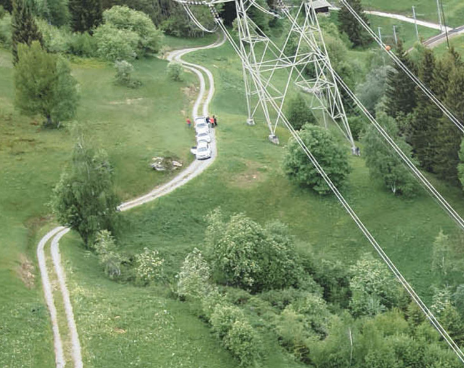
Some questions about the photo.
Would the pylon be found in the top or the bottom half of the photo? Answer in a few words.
top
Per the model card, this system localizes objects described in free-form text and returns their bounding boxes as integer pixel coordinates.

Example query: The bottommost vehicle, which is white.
[188,139,210,160]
